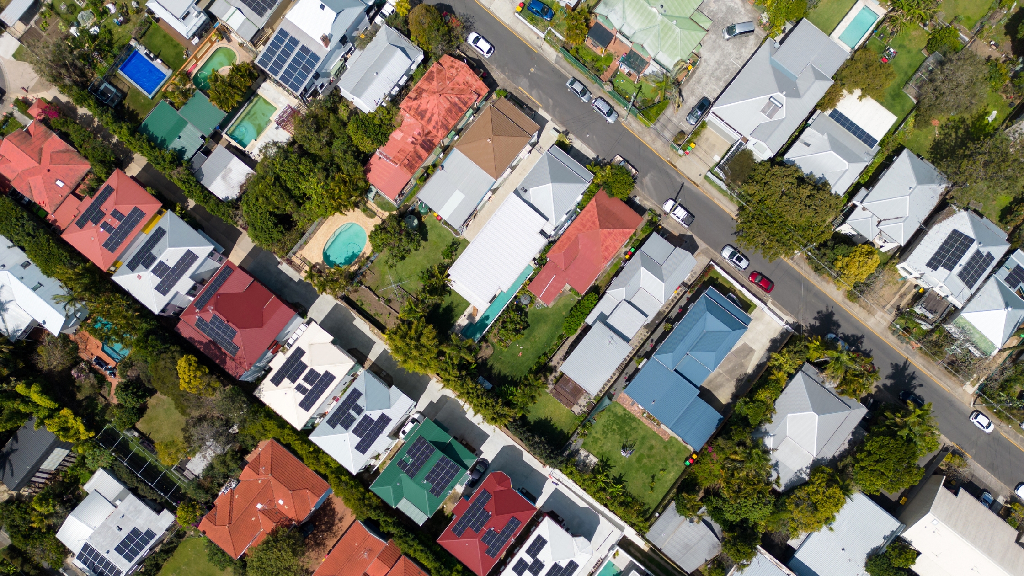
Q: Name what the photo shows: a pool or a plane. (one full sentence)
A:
There is a pool in the scene.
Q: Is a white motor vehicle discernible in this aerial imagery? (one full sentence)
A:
Yes, a white motor vehicle can be made out from above.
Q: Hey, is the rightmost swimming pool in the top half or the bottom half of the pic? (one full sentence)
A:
It is in the top half that the rightmost swimming pool appears.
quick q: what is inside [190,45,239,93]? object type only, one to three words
swimming pool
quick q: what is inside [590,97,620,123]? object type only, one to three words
car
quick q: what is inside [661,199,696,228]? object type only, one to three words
truck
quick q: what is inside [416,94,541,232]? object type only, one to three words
house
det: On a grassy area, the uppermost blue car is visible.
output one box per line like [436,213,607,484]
[527,0,556,22]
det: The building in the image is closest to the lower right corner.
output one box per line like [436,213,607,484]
[893,484,1024,576]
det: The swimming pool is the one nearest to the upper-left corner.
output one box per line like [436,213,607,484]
[118,40,175,100]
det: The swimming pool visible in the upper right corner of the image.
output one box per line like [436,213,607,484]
[837,3,881,50]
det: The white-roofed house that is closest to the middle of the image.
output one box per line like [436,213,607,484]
[448,191,549,313]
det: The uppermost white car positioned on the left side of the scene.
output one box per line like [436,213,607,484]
[372,1,396,27]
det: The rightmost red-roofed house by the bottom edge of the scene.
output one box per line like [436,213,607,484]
[435,470,538,576]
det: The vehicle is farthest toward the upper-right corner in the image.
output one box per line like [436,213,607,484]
[722,20,755,41]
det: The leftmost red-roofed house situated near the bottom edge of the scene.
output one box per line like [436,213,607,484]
[197,438,333,560]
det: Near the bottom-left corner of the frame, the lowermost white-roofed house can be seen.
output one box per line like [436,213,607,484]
[55,467,189,576]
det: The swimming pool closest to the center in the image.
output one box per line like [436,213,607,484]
[461,262,536,342]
